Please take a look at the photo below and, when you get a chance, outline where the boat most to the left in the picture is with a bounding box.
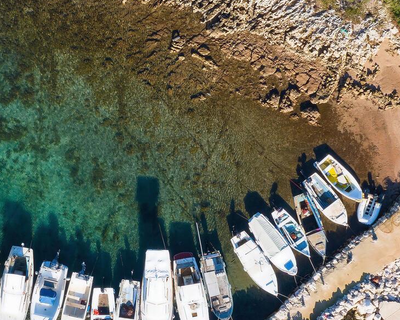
[0,232,34,320]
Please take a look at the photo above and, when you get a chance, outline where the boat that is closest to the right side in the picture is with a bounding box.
[357,190,383,225]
